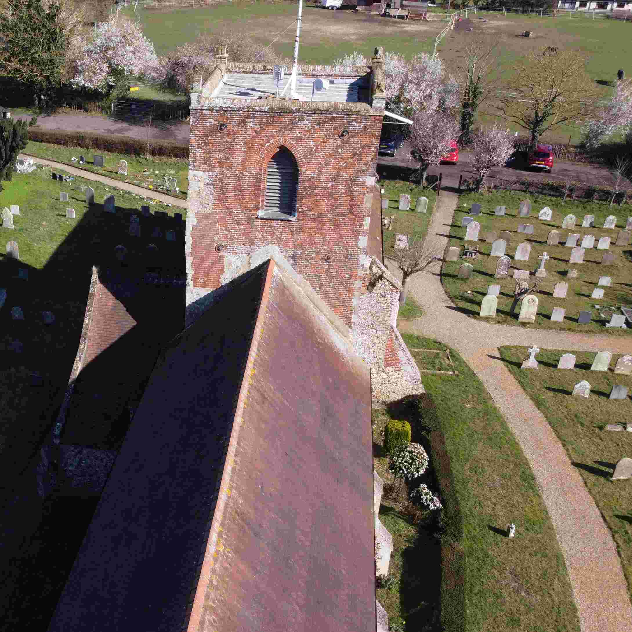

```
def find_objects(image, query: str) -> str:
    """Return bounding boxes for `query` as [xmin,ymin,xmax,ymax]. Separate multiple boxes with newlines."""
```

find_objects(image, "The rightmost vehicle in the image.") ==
[529,143,561,171]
